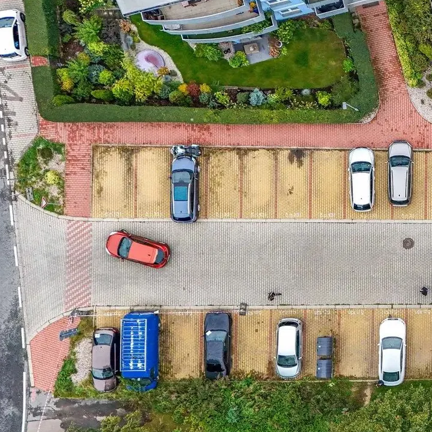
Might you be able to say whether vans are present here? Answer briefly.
Yes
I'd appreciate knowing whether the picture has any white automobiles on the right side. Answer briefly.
Yes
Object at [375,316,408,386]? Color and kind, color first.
white car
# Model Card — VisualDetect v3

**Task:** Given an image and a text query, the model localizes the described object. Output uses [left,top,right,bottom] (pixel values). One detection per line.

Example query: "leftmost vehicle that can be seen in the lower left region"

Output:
[88,328,123,391]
